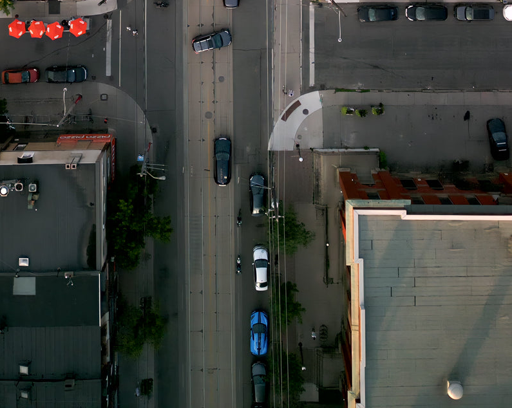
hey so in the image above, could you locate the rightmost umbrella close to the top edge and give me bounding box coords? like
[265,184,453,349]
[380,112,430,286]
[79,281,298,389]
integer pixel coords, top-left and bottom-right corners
[69,18,88,36]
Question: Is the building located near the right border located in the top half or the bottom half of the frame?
bottom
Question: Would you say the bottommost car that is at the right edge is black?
Yes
